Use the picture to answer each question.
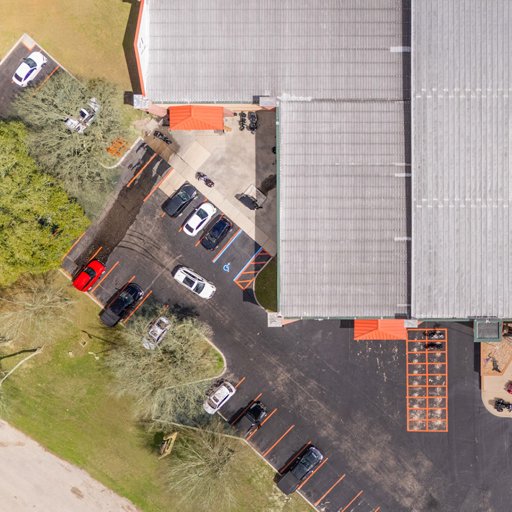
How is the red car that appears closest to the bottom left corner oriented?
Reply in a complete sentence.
The red car that appears closest to the bottom left corner has been laid out diagonally relative to the frame.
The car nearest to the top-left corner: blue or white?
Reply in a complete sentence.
The car nearest to the top-left corner is white.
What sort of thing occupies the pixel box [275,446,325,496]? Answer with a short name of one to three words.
truck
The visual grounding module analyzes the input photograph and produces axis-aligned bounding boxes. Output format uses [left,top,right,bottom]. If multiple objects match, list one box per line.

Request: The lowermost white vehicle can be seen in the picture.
[200,377,239,417]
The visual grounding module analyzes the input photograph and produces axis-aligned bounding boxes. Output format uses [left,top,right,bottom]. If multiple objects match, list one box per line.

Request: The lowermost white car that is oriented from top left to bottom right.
[172,263,217,302]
